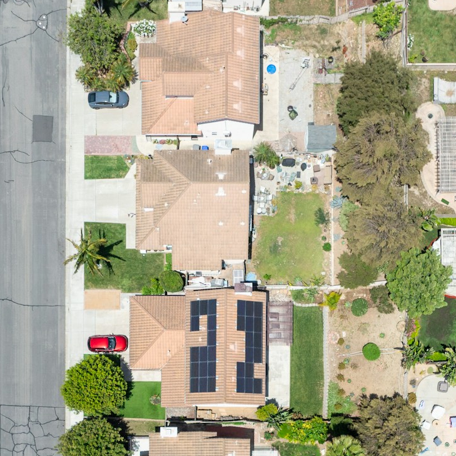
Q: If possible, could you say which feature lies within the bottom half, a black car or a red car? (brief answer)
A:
red car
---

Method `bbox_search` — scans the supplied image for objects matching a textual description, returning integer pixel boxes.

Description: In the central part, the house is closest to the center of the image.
[136,139,252,272]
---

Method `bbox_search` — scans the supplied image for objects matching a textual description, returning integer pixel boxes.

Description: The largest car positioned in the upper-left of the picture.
[88,87,129,109]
